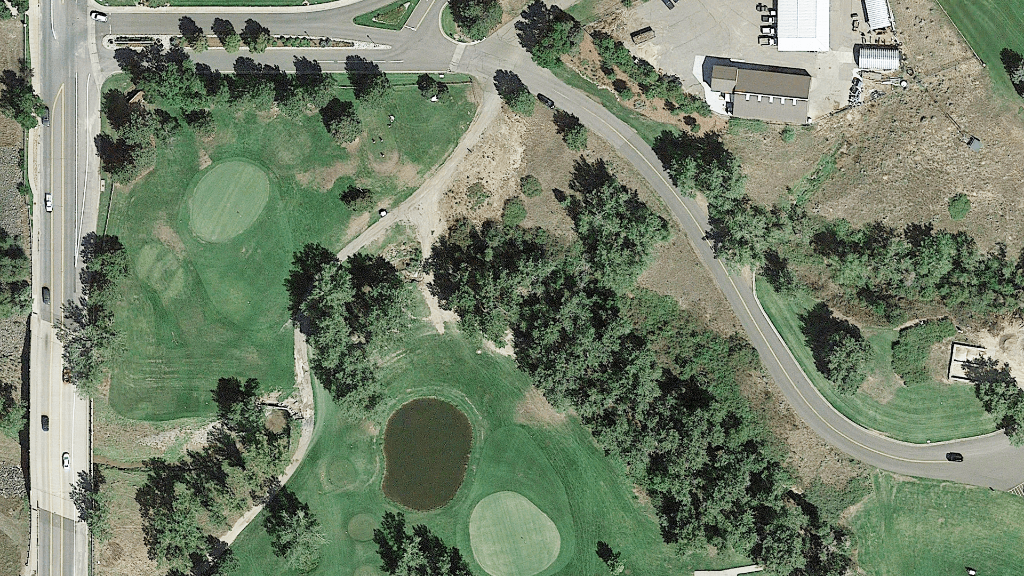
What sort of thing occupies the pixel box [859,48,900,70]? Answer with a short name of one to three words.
shed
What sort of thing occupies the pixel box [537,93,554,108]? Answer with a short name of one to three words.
car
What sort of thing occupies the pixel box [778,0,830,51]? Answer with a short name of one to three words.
building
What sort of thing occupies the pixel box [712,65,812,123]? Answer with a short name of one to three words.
building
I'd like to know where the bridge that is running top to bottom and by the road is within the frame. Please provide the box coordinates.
[29,313,93,525]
